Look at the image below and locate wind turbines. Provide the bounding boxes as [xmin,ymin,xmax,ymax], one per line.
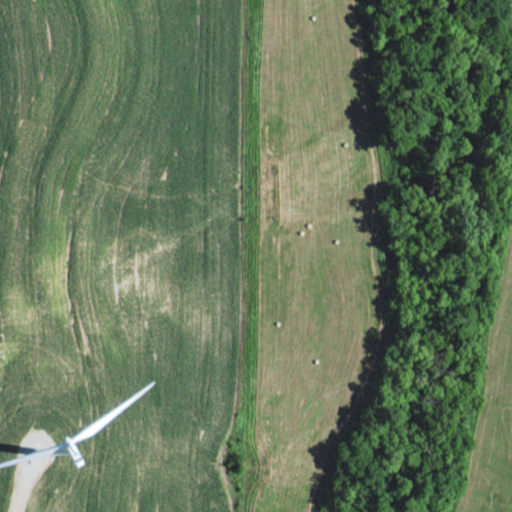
[0,381,153,473]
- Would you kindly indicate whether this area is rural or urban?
rural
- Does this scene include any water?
No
